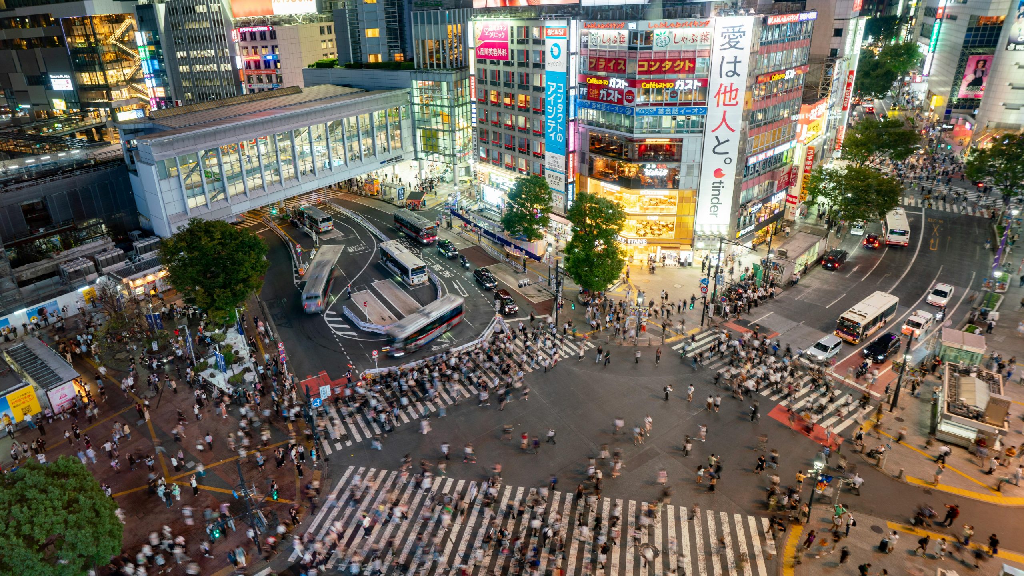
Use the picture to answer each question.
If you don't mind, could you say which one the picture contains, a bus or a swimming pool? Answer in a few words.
bus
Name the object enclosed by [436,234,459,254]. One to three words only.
car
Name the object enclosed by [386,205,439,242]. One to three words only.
bus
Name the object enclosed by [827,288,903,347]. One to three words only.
bus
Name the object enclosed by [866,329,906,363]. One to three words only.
car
